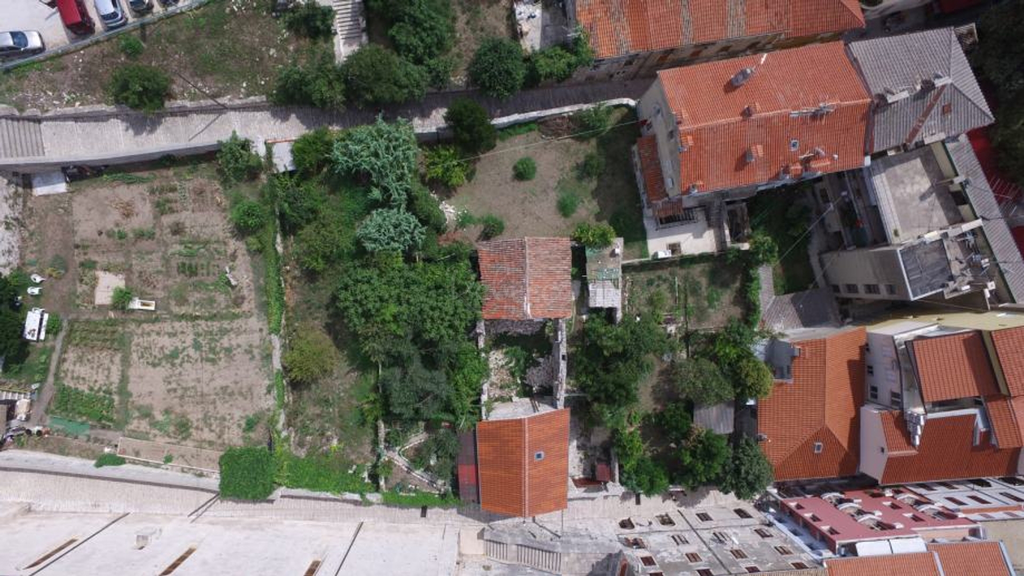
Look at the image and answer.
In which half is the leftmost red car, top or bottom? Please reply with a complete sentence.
It is in the top half that the leftmost red car appears.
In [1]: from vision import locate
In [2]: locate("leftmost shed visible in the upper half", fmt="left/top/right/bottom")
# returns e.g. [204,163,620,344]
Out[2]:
[31,171,74,196]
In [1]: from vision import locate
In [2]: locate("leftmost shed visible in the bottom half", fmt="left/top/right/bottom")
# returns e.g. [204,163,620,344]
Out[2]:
[0,388,44,434]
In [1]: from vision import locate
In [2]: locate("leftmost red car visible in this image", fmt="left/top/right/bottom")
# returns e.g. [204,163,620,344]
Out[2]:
[55,0,99,42]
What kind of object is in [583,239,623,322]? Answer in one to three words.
shed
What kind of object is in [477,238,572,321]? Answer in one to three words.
house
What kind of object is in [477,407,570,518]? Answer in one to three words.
house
